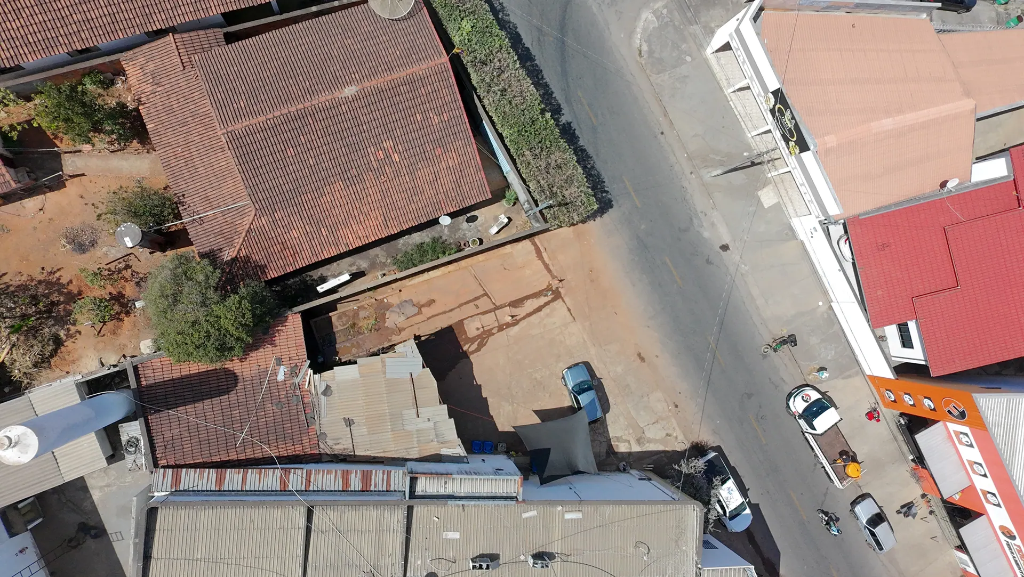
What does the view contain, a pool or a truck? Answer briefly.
truck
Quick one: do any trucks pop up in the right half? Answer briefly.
Yes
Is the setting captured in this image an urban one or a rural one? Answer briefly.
urban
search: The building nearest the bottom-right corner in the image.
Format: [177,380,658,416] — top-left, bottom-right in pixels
[867,369,1024,577]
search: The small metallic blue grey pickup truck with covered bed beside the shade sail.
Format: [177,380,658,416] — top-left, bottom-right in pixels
[561,361,606,429]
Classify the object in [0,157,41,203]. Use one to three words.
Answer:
house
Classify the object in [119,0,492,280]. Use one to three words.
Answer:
house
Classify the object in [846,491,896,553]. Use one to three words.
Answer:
car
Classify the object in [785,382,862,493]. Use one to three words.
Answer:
truck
